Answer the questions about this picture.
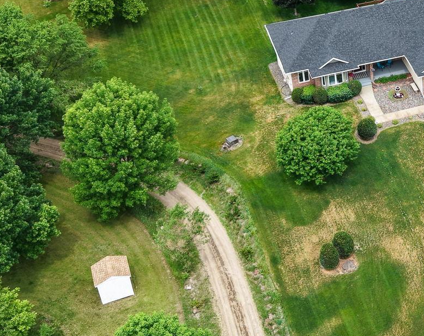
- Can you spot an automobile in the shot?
No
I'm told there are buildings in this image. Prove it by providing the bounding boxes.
[90,256,135,304]
[265,0,424,100]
